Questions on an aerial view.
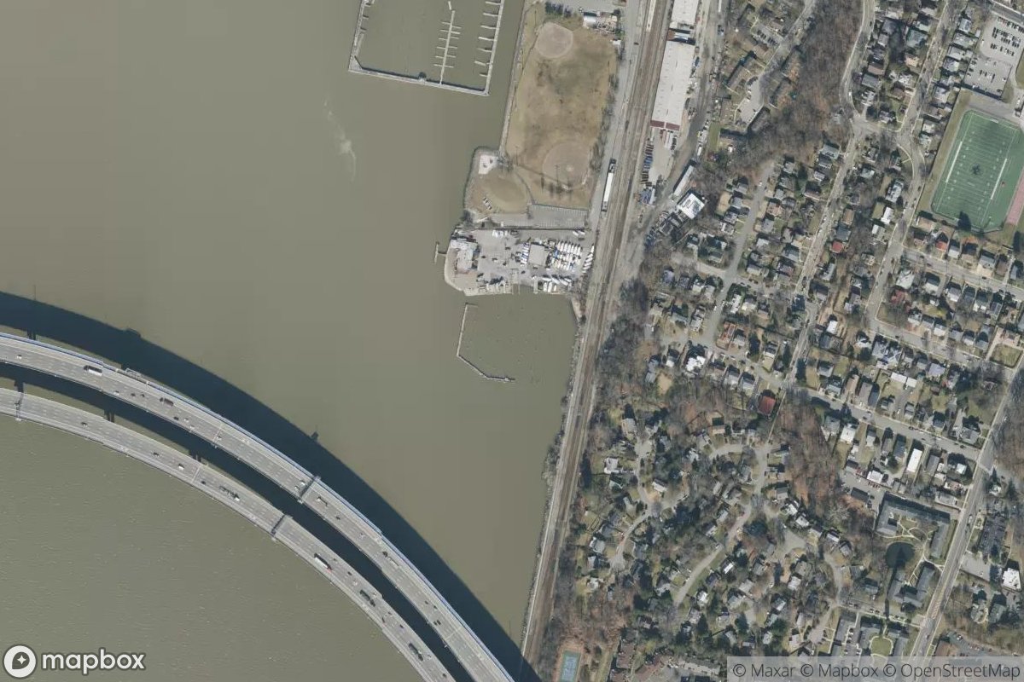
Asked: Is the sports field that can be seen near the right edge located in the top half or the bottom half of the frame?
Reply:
top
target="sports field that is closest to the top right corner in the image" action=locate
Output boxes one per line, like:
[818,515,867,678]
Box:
[932,110,1024,231]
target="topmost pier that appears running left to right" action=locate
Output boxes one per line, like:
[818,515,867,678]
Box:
[348,67,490,96]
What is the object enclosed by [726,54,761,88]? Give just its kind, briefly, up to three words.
building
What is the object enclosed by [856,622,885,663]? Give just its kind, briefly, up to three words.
building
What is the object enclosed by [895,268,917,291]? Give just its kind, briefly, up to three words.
house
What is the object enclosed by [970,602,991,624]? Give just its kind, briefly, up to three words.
house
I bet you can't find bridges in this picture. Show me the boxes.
[0,333,509,682]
